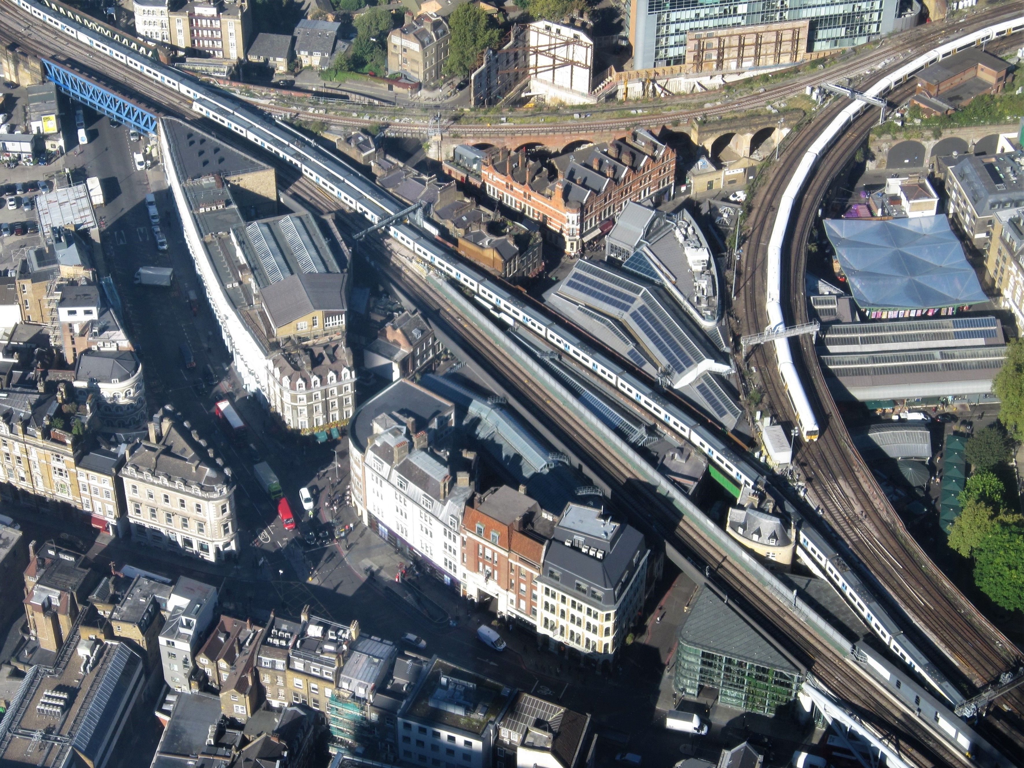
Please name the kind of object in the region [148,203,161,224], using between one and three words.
vehicle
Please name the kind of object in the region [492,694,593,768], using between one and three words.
house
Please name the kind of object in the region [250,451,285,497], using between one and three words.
truck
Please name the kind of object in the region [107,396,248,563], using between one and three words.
building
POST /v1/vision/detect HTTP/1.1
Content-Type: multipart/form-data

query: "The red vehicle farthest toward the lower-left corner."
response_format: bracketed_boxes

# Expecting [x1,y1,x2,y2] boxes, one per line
[278,493,294,522]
